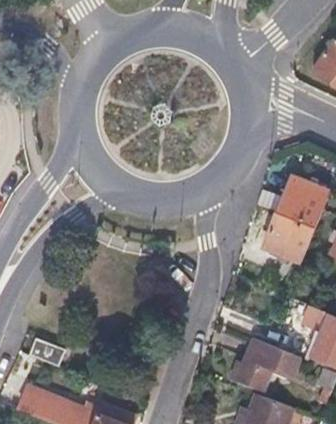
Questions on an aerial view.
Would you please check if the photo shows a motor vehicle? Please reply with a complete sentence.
Yes, I can see a motor vehicle in this picture.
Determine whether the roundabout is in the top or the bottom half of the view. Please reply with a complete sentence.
It is in the top half that the roundabout appears.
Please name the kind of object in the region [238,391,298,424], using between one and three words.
house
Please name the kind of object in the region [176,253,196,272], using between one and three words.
car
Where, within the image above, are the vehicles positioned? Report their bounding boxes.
[176,253,196,272]
[0,197,5,208]
[3,172,19,193]
[0,356,10,376]
[267,327,288,342]
[193,332,204,354]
